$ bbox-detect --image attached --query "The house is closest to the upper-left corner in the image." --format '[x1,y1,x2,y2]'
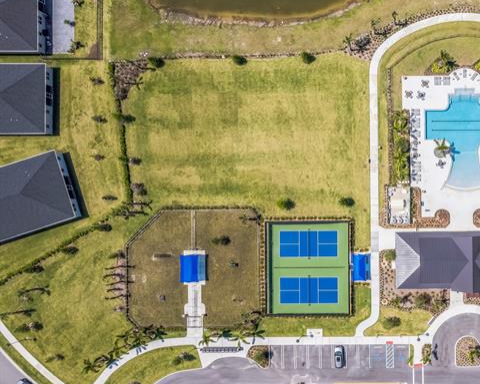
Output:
[0,0,44,53]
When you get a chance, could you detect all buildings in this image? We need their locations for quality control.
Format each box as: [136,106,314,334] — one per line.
[0,62,52,133]
[396,231,480,294]
[0,0,44,53]
[0,150,81,242]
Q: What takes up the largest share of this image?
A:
grass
